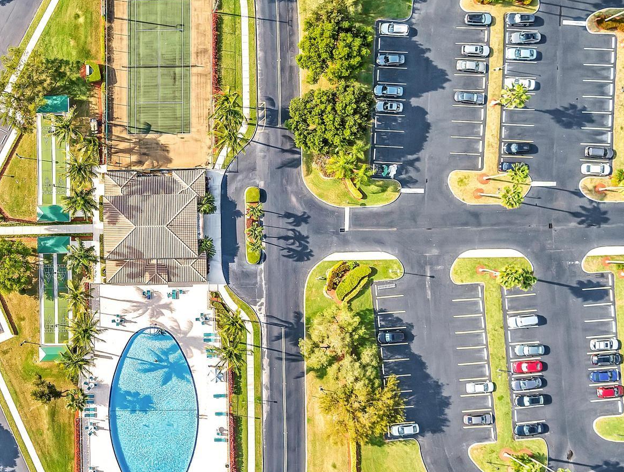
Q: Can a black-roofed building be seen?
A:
No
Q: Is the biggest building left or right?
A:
left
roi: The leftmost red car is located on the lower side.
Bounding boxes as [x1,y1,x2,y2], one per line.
[512,360,542,374]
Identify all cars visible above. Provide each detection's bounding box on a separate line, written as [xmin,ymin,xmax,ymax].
[463,13,492,26]
[590,352,620,365]
[464,381,495,394]
[498,161,528,173]
[508,315,537,328]
[375,52,405,66]
[373,83,403,97]
[507,47,537,61]
[454,92,483,104]
[580,163,610,175]
[514,344,544,357]
[505,77,534,91]
[457,59,485,72]
[590,369,619,382]
[585,146,613,159]
[511,377,542,391]
[463,412,493,426]
[390,422,420,436]
[595,386,624,398]
[589,337,619,350]
[461,44,489,58]
[512,360,542,374]
[513,422,543,437]
[380,22,407,36]
[505,12,534,27]
[511,31,540,45]
[502,143,530,155]
[514,394,543,407]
